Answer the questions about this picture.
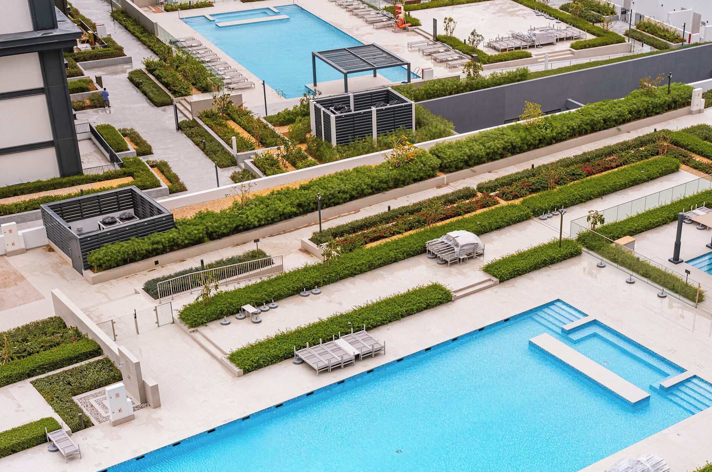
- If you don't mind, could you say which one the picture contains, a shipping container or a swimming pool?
swimming pool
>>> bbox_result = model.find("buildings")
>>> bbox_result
[0,0,84,189]
[609,0,712,40]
